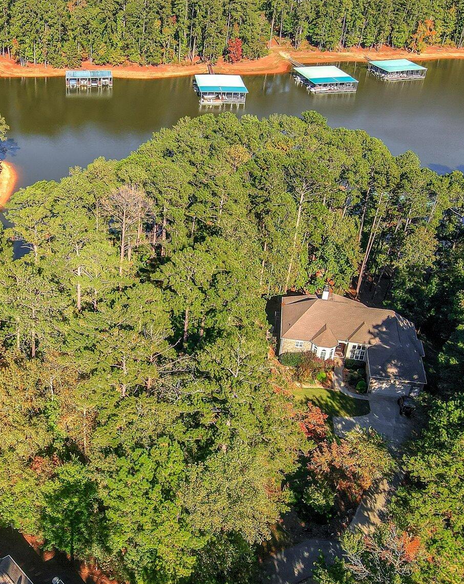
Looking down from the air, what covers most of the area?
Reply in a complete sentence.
The scene is dominated by trees.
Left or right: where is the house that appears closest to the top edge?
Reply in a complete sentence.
The house that appears closest to the top edge is on the right side of the image.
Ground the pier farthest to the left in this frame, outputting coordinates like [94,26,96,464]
[67,71,113,88]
